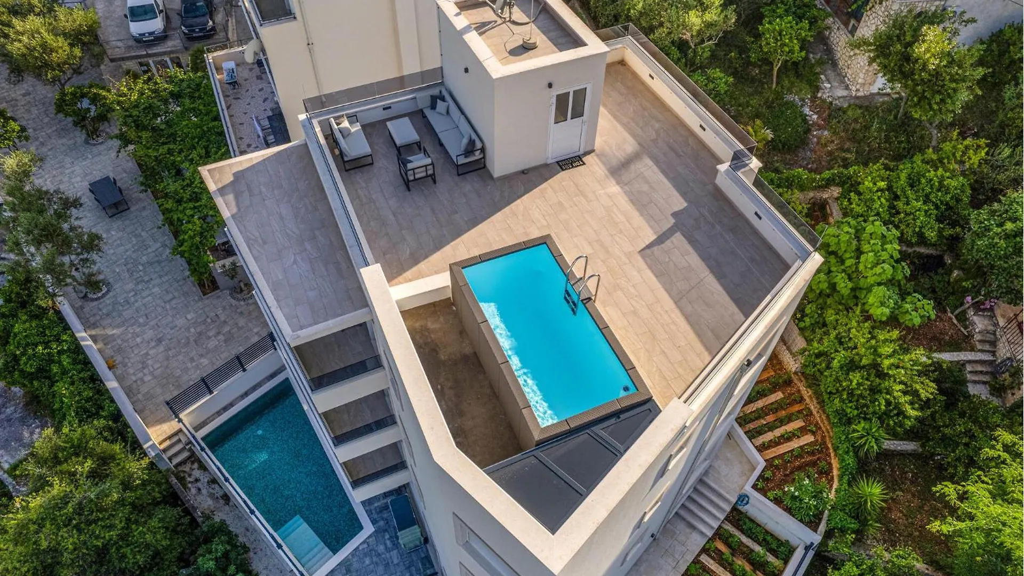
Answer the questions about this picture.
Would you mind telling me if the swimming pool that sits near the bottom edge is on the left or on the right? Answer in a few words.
left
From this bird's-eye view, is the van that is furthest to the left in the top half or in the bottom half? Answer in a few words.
top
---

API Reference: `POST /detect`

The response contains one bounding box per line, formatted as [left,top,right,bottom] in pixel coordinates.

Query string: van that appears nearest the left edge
[121,0,173,49]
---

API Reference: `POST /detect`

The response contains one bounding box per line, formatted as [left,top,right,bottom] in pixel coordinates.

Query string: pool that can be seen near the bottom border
[195,368,375,576]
